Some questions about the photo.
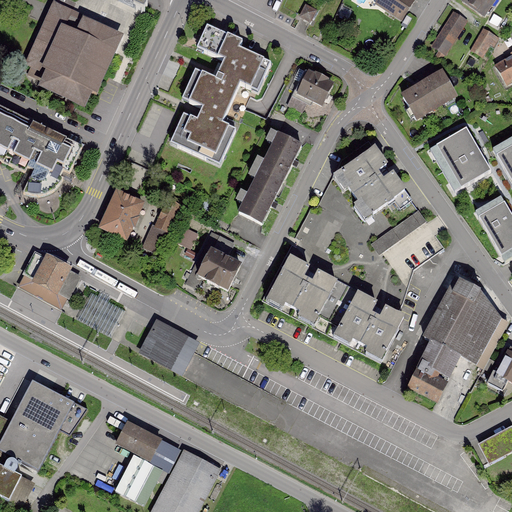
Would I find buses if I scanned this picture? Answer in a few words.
Yes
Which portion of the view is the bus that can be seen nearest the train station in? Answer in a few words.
left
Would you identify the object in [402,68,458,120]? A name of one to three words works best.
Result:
house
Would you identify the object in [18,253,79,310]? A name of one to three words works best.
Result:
train station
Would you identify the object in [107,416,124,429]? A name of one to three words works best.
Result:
vehicle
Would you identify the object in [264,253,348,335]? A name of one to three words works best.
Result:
building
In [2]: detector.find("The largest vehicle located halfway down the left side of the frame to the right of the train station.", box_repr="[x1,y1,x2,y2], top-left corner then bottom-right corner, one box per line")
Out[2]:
[76,260,138,298]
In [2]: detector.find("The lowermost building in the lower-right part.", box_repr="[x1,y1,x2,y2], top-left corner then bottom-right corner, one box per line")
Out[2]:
[478,423,512,468]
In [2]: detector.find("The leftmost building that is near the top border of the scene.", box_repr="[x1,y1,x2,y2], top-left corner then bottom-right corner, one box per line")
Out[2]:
[27,1,124,108]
